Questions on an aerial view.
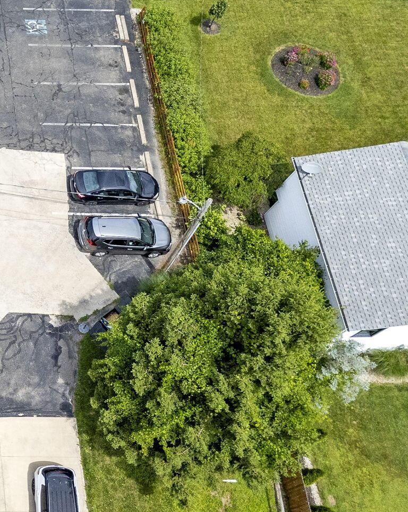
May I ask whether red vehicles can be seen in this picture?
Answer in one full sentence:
No, there appears to be no red vehicle in this shot.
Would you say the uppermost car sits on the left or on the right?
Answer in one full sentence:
The uppermost car appears in the left half of the scene.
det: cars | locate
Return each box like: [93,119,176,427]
[31,465,84,512]
[67,165,159,208]
[74,215,172,260]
